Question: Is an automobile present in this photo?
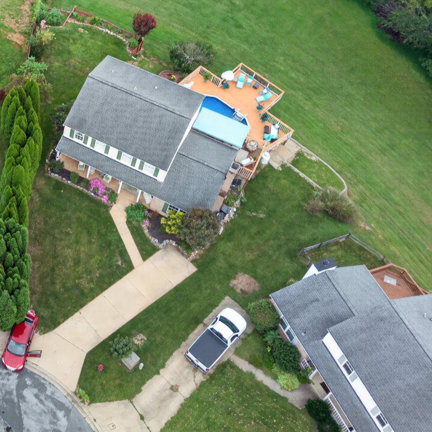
Yes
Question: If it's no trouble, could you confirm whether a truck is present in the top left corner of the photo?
No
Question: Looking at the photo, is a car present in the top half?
No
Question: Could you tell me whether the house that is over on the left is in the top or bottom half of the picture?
top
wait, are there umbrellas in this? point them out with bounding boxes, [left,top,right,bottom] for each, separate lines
[220,73,236,92]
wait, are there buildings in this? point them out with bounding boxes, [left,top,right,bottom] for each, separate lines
[272,252,432,432]
[55,55,239,231]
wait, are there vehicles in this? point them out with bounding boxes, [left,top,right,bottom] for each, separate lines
[4,307,46,376]
[182,307,247,375]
